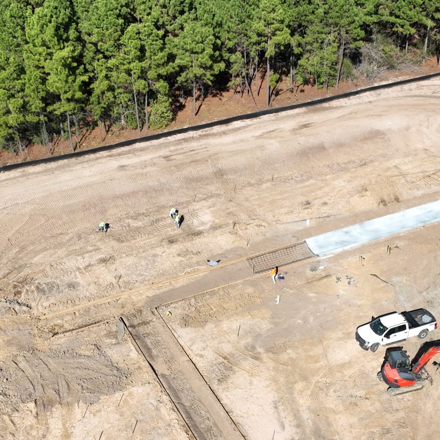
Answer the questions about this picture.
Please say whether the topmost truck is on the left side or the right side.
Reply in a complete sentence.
It is on the right.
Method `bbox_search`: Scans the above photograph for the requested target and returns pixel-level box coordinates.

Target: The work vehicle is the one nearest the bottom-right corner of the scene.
[380,344,440,395]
